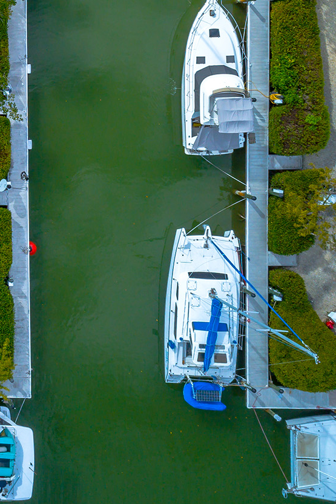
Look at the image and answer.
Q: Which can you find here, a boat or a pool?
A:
boat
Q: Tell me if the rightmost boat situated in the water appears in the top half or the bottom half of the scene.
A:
bottom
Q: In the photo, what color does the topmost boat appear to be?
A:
white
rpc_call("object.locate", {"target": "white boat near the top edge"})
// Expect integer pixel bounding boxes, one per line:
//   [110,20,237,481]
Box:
[176,0,254,155]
